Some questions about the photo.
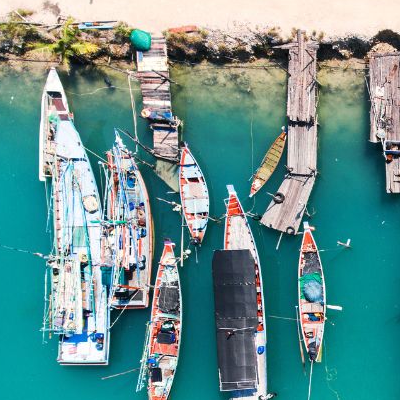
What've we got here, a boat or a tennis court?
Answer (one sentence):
Of the two, only a boat appears.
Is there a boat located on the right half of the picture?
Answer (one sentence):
Yes, you'll find a boat on the right half of the picture.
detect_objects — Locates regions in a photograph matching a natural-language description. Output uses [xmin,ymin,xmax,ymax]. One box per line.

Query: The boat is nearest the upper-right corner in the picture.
[249,126,287,197]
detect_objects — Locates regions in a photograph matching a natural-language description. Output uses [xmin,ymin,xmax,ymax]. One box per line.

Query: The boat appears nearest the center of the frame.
[177,144,211,258]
